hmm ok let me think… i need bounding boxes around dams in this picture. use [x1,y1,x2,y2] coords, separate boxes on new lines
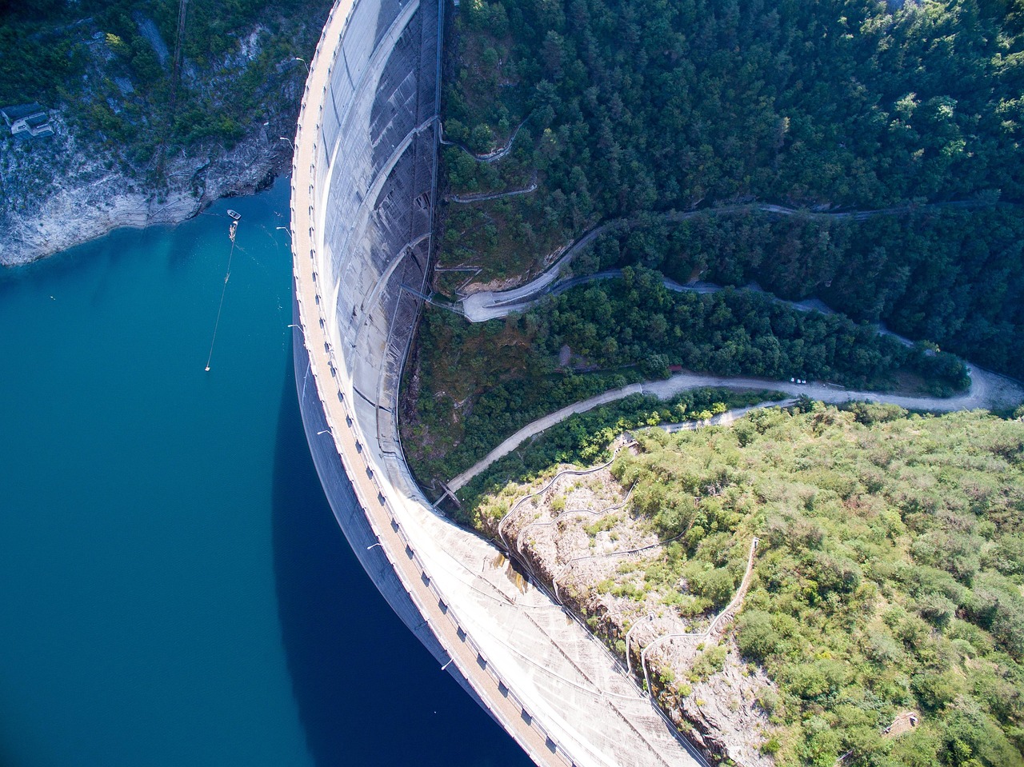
[288,0,719,767]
